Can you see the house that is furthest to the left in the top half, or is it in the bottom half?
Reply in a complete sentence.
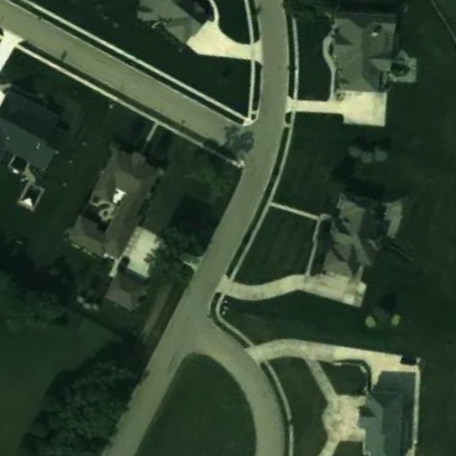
The top half of the photo is where the house that is furthest to the left is.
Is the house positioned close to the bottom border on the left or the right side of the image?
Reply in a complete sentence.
The house positioned close to the bottom border is on the right side of the image.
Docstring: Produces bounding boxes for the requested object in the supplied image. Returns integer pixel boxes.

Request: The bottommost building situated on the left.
[105,270,148,314]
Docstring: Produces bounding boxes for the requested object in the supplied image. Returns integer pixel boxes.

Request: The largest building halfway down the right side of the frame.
[320,190,390,280]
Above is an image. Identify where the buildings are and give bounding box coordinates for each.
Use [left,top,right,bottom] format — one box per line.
[133,0,211,46]
[0,87,60,170]
[333,13,399,99]
[320,190,390,280]
[105,270,148,314]
[358,371,415,456]
[65,145,159,261]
